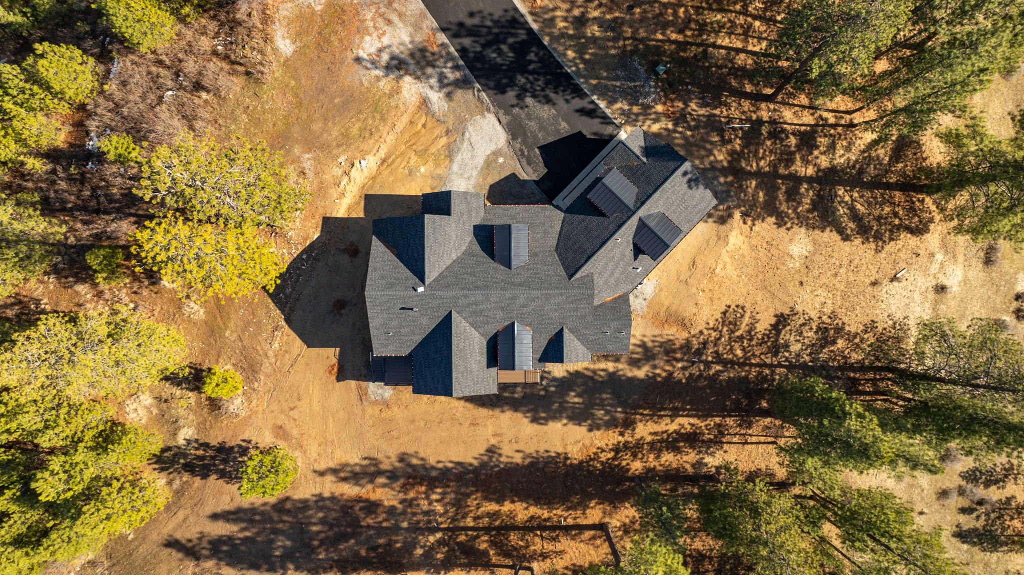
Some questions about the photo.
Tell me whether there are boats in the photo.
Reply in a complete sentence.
No, there appears to be no boat in this shot.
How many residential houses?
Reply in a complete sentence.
Just 1 residential house appears in this view.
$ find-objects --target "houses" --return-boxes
[365,124,718,397]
